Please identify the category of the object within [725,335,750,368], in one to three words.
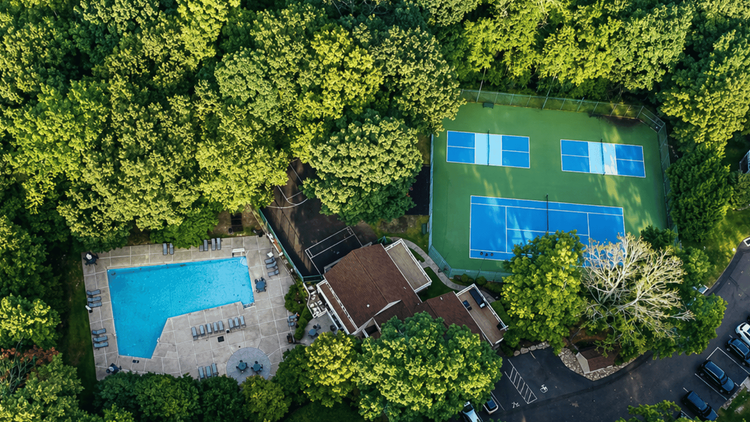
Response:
car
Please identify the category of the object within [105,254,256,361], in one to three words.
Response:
swimming pool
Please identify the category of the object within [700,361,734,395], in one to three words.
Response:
car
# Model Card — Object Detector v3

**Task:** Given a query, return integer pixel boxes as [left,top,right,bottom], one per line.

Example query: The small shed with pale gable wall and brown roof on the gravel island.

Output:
[582,344,615,372]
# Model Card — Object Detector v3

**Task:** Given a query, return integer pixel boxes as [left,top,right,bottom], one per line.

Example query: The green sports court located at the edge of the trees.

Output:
[430,101,672,295]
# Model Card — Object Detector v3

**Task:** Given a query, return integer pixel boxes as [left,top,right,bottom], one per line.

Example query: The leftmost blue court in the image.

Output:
[446,130,530,169]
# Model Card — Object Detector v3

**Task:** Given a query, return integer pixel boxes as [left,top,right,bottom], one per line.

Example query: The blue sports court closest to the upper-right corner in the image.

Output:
[560,139,646,177]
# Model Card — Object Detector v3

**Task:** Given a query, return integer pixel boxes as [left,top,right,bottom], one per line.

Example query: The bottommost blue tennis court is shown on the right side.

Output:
[469,196,628,271]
